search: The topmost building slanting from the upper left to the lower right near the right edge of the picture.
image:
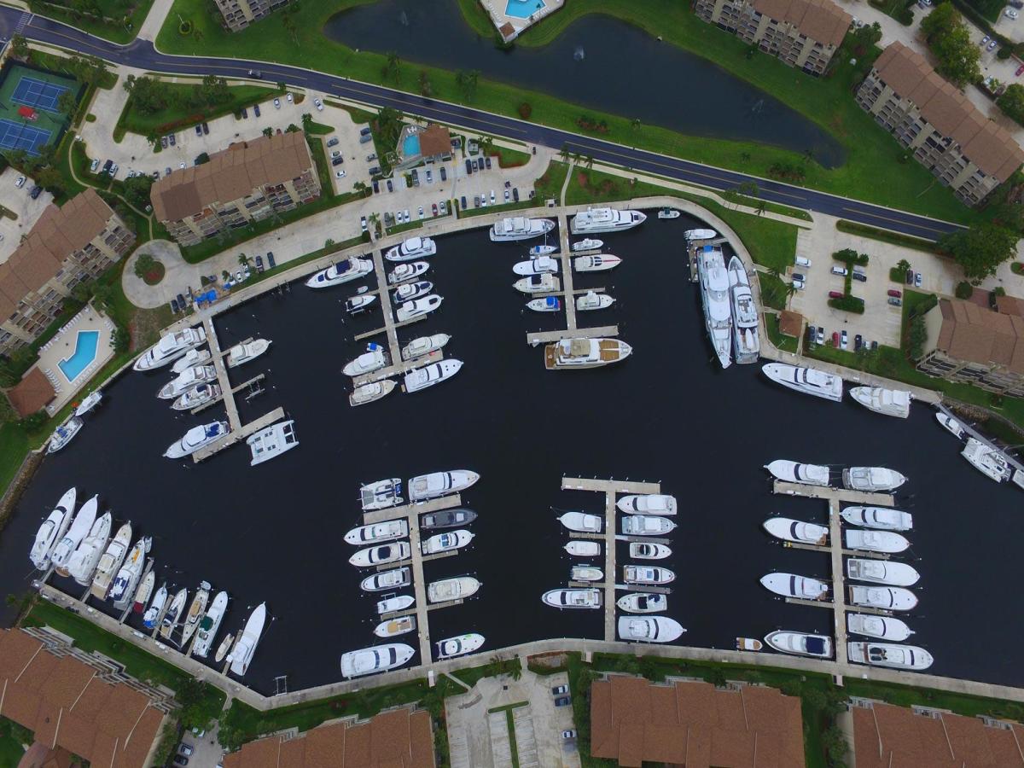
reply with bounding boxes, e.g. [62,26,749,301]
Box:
[856,44,1024,197]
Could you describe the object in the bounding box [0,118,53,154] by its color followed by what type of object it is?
blue tennis court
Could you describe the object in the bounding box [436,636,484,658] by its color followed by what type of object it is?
white boat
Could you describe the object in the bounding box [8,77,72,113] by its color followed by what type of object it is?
blue tennis court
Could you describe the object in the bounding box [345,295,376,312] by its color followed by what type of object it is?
white boat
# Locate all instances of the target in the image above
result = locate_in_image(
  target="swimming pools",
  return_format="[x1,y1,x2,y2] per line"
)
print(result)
[480,0,564,43]
[395,123,424,162]
[35,306,117,418]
